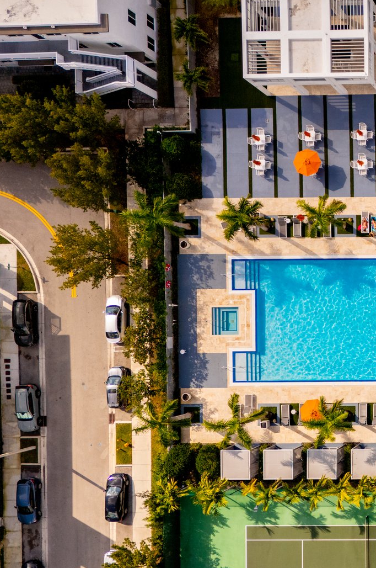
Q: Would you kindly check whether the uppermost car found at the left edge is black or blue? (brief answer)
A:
black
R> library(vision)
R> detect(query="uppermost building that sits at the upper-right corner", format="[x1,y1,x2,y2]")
[242,0,376,95]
